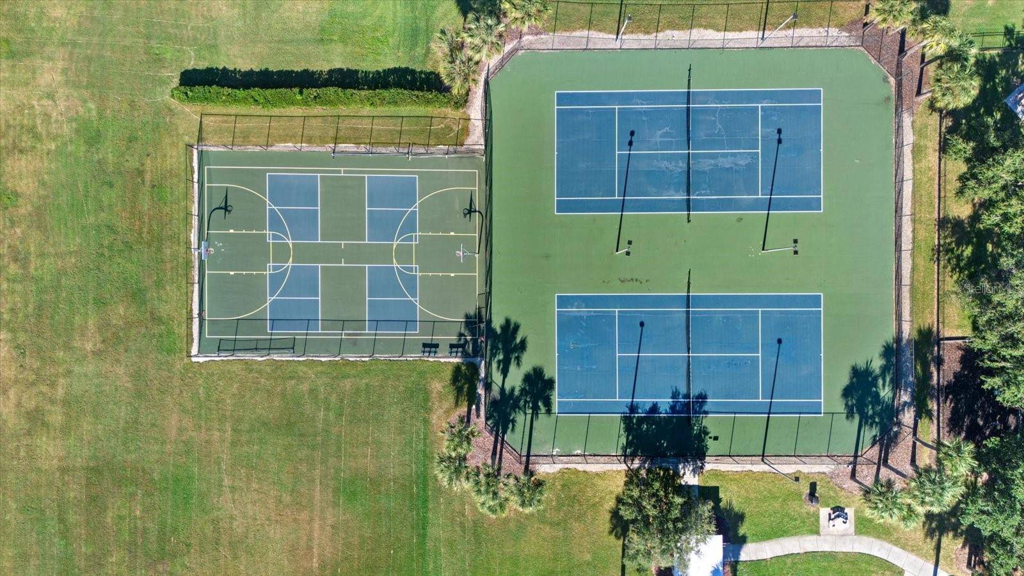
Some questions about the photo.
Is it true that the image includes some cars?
No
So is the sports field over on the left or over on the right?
left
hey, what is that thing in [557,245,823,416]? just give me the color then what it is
blue tennis court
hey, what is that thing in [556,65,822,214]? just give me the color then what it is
blue tennis court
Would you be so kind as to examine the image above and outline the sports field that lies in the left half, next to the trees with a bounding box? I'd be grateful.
[0,0,429,576]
